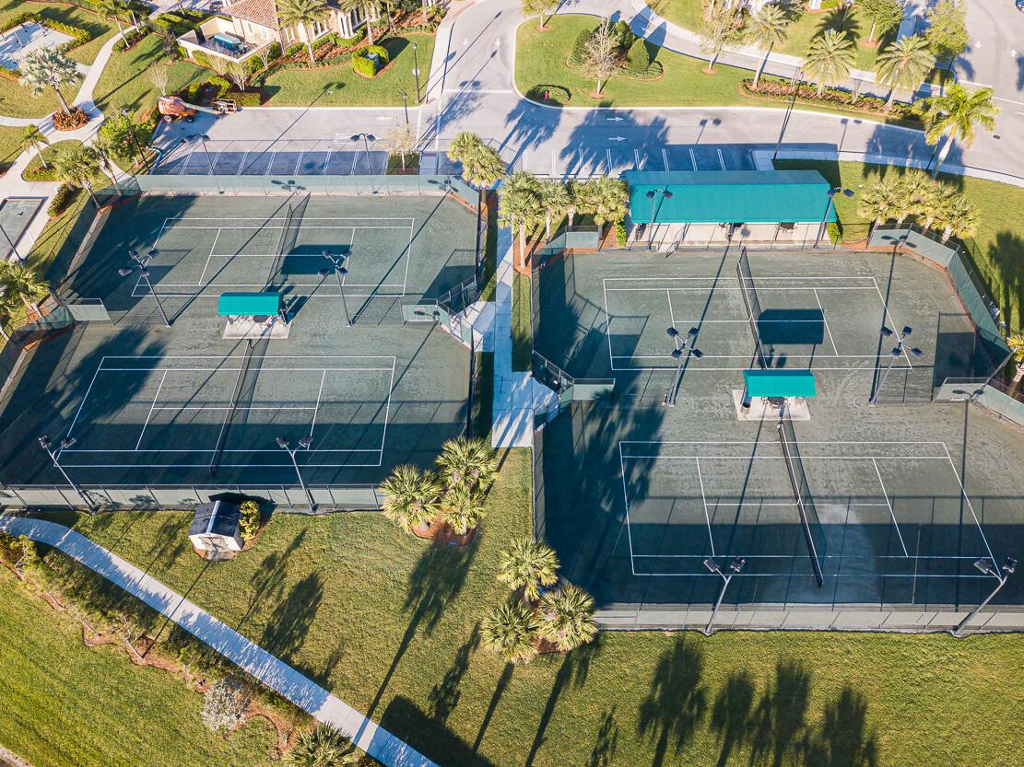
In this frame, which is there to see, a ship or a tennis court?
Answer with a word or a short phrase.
tennis court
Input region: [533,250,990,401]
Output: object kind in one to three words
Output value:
tennis court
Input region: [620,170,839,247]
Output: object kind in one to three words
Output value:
building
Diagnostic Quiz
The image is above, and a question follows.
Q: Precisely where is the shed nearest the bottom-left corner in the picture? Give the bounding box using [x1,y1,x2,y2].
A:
[183,499,245,567]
